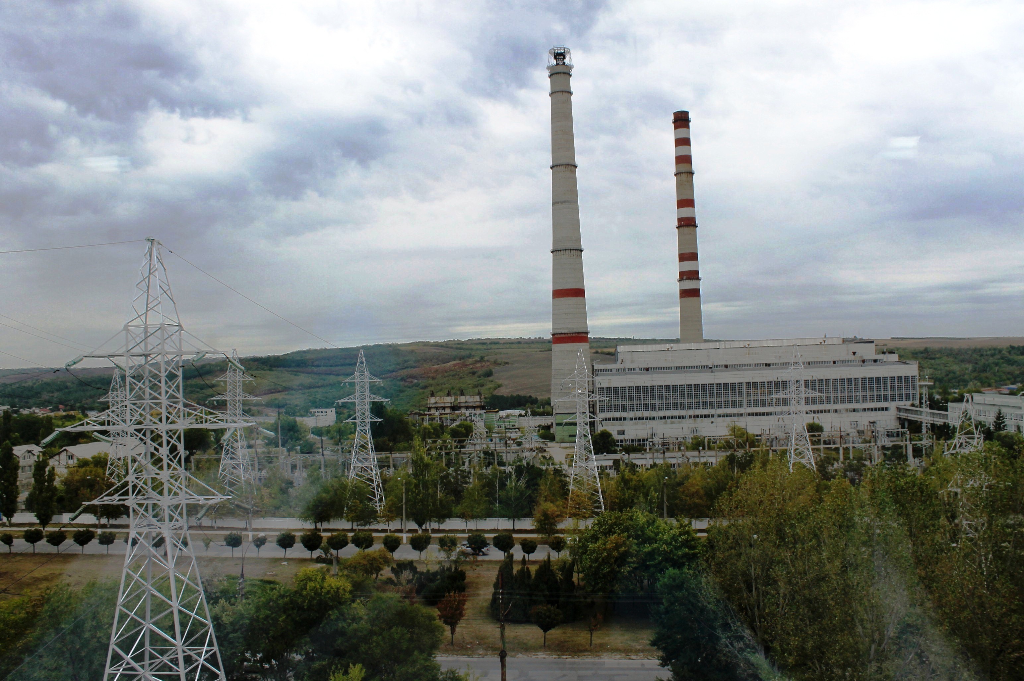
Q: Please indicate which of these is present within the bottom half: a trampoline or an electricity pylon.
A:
electricity pylon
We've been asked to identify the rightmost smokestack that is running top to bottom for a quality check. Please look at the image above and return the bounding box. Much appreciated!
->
[673,109,703,343]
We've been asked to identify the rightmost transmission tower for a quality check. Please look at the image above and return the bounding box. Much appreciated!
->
[932,394,1012,493]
